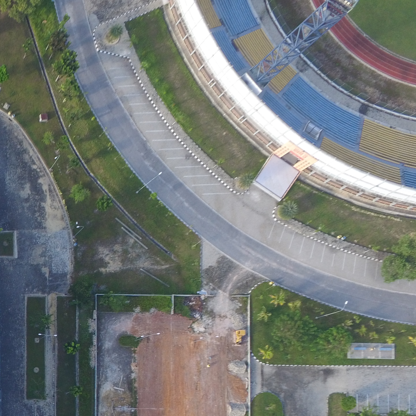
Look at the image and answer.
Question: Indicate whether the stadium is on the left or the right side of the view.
right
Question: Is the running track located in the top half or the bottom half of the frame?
top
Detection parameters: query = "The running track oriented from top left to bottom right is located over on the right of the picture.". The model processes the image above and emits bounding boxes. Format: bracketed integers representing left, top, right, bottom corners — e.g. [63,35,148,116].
[307,0,416,88]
